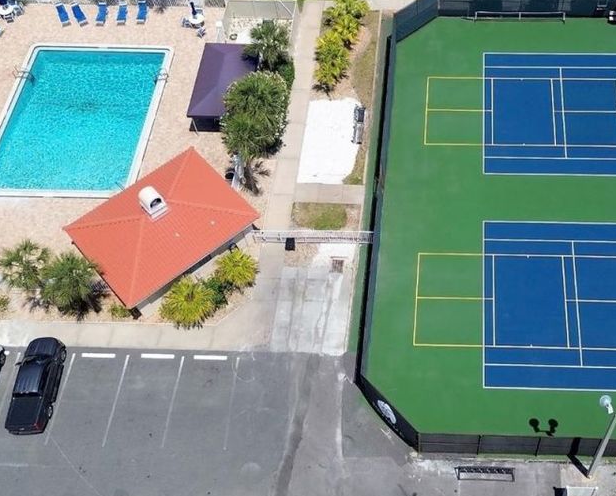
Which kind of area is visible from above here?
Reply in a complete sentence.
This image shows a sports ground.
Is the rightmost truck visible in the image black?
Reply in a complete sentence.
Yes, the rightmost truck is indeed black.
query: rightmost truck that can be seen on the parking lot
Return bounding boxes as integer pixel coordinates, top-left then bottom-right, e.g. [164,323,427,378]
[4,335,68,435]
